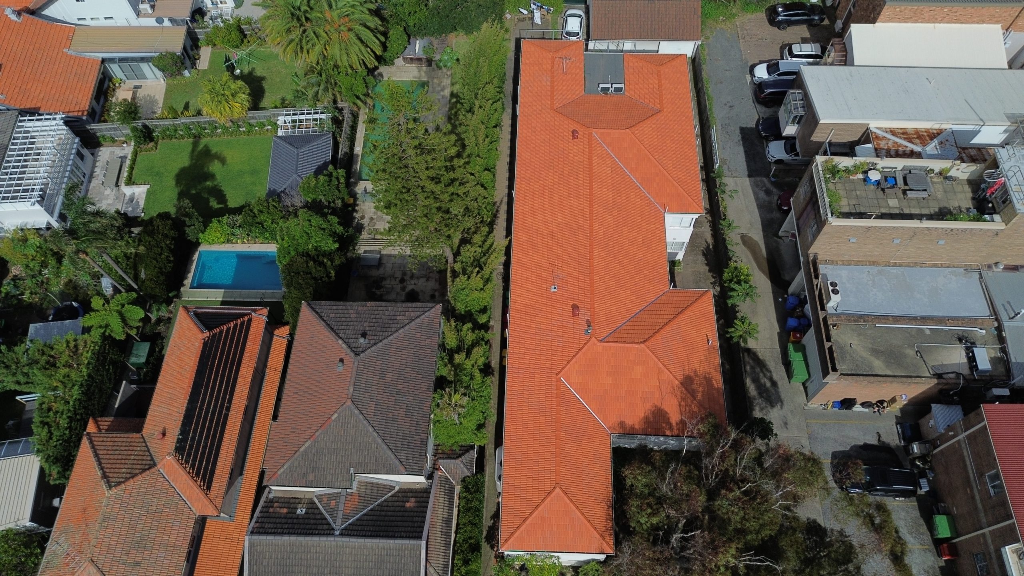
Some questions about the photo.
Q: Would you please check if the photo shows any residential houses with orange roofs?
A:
Yes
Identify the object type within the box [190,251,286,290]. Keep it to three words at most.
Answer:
swimming pool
